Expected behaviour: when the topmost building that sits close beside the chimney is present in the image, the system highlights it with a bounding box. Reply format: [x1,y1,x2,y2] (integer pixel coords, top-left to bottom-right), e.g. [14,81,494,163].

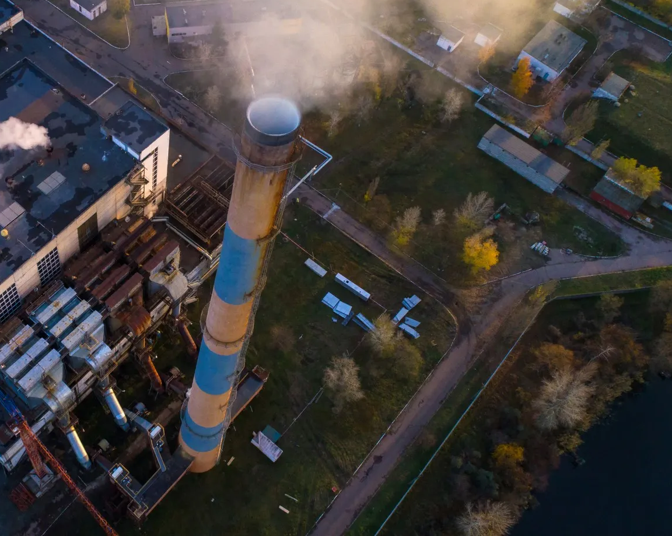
[164,0,303,42]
